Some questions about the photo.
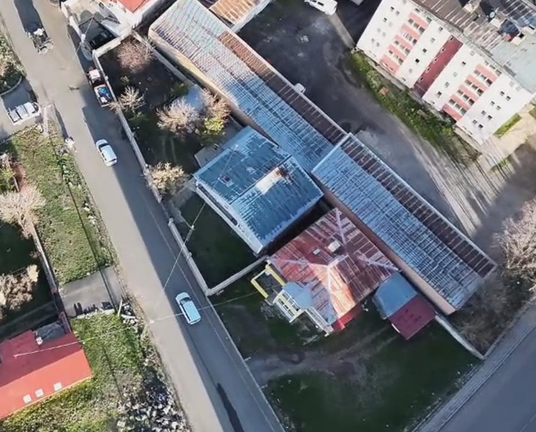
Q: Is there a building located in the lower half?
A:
Yes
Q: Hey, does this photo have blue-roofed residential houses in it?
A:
Yes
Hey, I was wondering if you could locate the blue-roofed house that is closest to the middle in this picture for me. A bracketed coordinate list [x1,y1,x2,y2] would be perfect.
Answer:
[192,130,321,254]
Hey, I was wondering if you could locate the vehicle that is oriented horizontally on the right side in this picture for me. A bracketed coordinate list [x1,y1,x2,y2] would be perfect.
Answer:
[303,0,340,16]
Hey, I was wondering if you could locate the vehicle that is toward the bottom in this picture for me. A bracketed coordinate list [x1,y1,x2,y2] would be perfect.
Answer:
[175,291,203,328]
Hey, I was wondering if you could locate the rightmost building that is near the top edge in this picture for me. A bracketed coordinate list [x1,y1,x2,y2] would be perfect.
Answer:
[361,0,536,141]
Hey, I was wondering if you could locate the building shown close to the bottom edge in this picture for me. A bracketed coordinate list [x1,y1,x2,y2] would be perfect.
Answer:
[0,323,93,424]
